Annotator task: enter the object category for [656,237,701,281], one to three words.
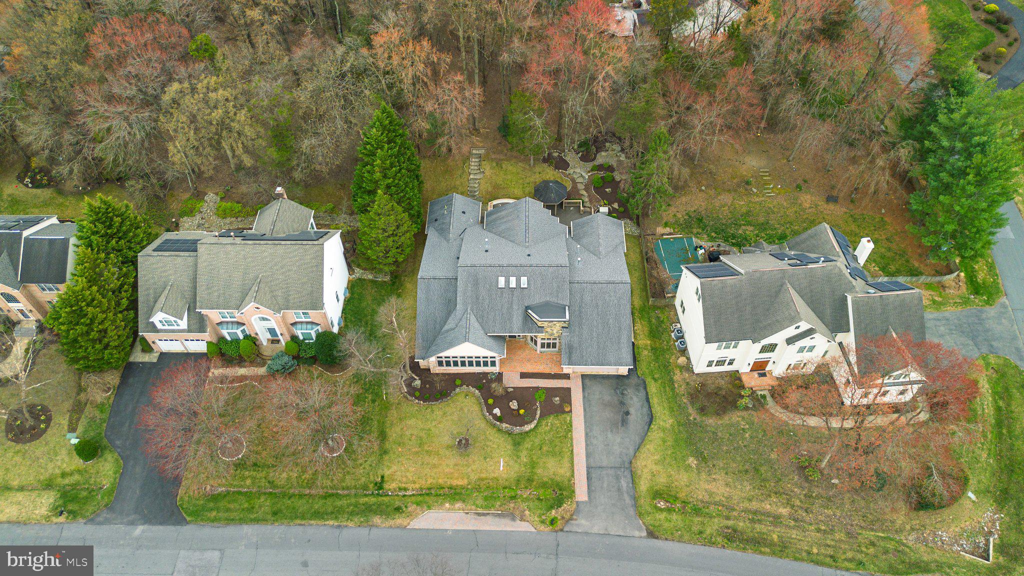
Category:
sports court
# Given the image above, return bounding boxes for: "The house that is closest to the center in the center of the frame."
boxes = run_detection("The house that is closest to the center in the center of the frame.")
[414,193,634,377]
